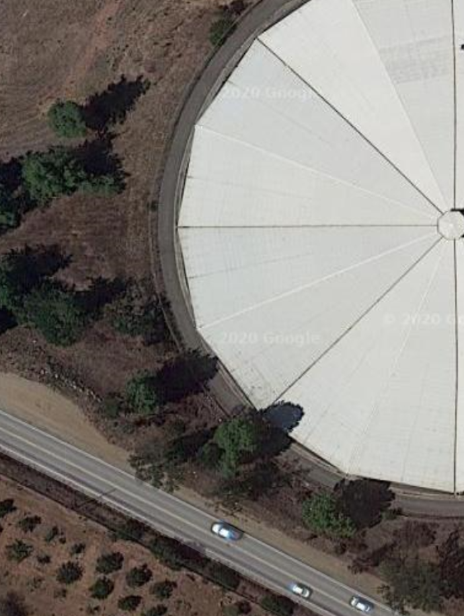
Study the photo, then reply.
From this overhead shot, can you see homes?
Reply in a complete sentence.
No, I find no home anywhere in the image.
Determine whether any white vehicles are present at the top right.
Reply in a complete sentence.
No, no white vehicle can be made out at the top right.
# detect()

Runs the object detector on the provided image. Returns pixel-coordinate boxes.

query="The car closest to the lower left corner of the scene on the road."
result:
[215,523,239,540]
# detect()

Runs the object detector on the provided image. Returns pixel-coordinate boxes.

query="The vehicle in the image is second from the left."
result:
[289,581,312,598]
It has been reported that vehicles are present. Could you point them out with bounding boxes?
[215,523,239,540]
[350,595,373,611]
[289,581,312,598]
